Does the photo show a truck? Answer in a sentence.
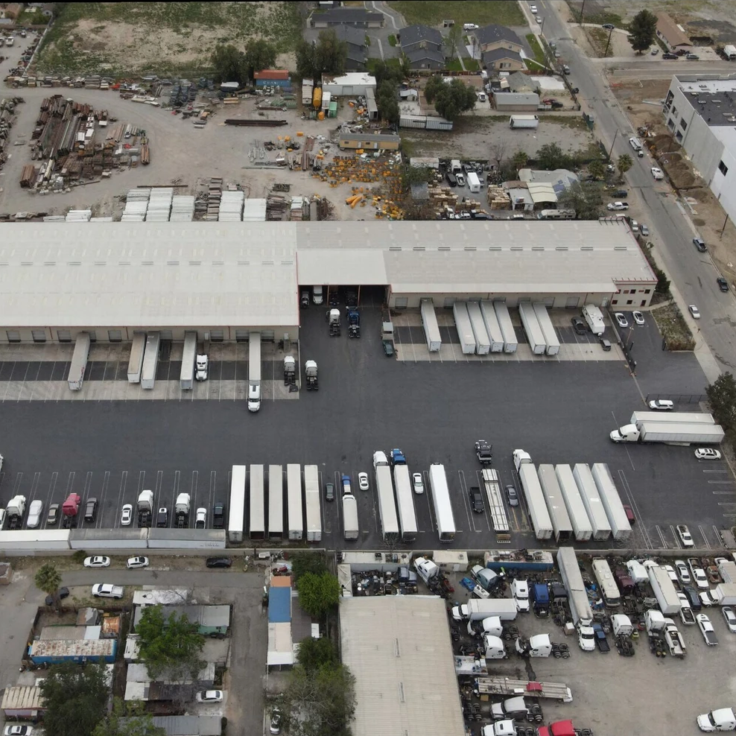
Yes, the photo shows a truck.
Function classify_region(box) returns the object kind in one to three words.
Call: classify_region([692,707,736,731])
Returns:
truck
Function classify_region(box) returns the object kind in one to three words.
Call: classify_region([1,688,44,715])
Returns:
house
